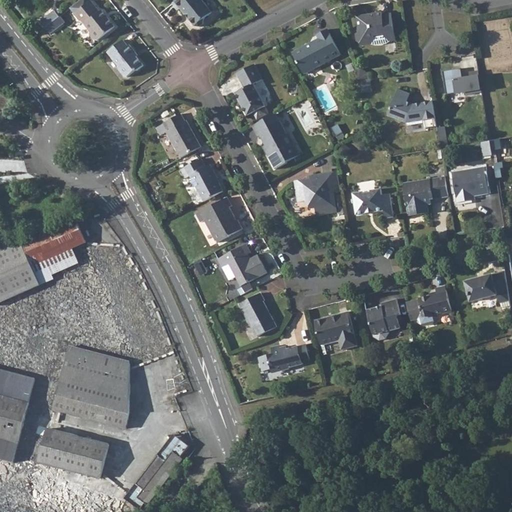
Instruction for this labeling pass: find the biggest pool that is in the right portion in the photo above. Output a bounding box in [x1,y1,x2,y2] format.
[314,84,338,116]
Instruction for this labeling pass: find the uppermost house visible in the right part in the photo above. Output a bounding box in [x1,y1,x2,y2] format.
[355,10,396,45]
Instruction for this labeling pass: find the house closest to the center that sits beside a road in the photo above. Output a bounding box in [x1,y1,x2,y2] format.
[216,243,269,300]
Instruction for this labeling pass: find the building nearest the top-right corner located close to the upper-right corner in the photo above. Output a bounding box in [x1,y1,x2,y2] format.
[444,68,481,98]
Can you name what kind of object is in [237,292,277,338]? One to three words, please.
house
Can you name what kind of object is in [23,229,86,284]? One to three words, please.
building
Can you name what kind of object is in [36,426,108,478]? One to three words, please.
building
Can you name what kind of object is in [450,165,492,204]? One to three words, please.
house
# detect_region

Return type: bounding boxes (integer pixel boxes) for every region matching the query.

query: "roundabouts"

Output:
[42,100,132,192]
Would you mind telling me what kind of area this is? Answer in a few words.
residential area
